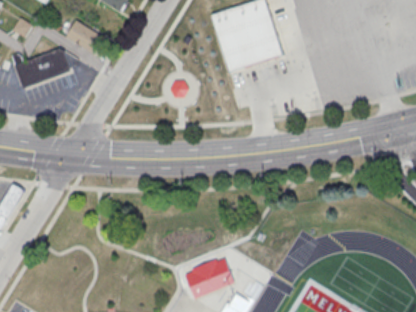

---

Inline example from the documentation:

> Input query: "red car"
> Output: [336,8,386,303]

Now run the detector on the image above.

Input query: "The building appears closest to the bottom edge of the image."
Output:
[188,258,234,298]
